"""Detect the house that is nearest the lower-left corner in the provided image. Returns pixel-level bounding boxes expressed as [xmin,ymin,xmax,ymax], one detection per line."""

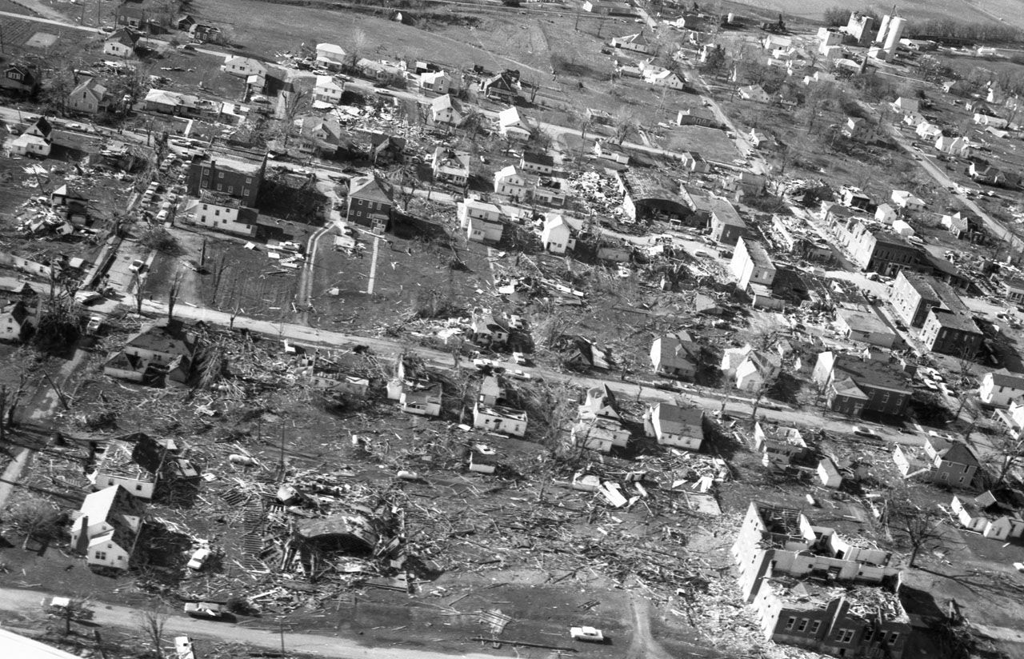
[63,483,155,577]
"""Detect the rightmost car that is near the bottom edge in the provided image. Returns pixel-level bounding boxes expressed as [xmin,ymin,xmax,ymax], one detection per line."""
[571,624,603,639]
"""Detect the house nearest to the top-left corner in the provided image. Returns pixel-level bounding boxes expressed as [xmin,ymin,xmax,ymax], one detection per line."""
[0,64,42,97]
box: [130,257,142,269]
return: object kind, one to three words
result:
vehicle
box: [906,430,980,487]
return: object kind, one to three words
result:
house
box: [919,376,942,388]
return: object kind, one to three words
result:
vehicle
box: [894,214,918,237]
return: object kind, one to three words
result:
building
